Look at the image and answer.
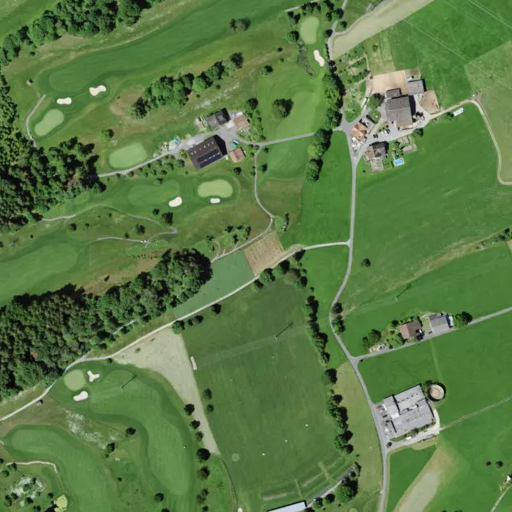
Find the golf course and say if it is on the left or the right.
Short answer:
left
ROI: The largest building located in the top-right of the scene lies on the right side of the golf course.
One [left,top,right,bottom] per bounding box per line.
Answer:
[384,96,414,127]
